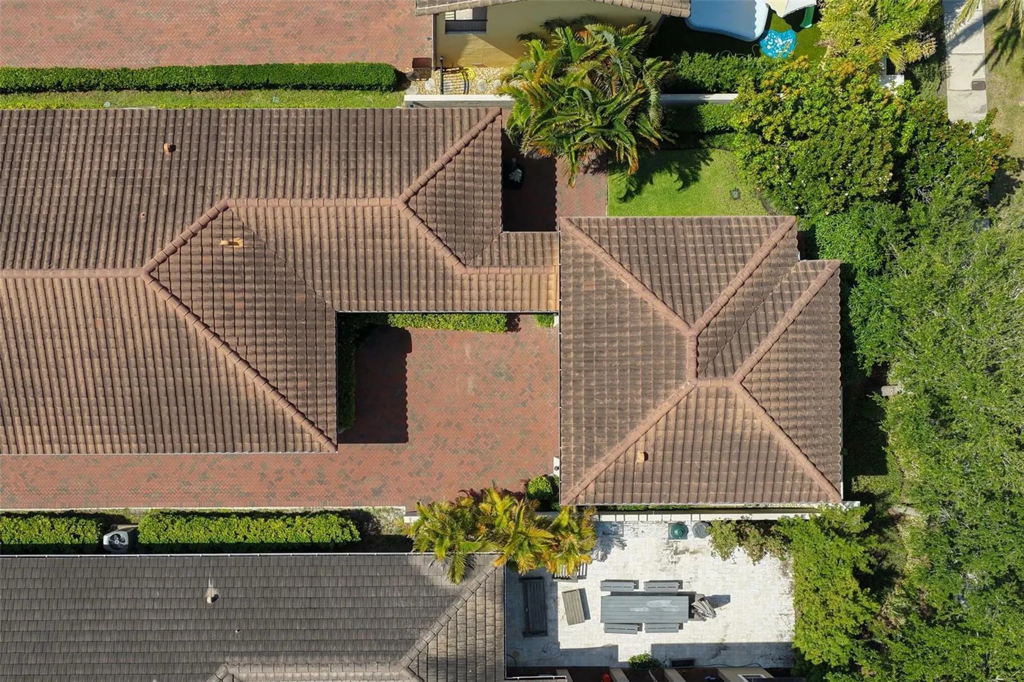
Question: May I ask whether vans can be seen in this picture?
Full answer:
No, no van is visible in the view.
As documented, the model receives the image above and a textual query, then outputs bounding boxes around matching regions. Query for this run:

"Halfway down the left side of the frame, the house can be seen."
[0,106,557,457]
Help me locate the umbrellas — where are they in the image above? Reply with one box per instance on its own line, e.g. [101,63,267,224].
[693,595,718,621]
